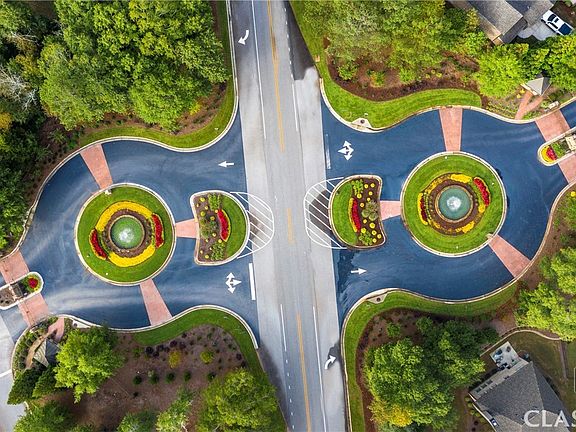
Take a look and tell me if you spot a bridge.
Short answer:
No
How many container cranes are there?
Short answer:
zero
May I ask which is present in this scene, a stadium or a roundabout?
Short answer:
roundabout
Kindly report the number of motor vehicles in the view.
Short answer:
one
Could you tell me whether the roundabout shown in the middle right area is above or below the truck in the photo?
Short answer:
below it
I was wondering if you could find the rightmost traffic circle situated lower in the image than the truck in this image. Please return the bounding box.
[320,76,576,338]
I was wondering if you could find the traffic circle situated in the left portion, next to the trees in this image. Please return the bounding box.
[0,94,258,347]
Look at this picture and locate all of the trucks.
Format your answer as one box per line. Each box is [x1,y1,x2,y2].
[542,9,574,38]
